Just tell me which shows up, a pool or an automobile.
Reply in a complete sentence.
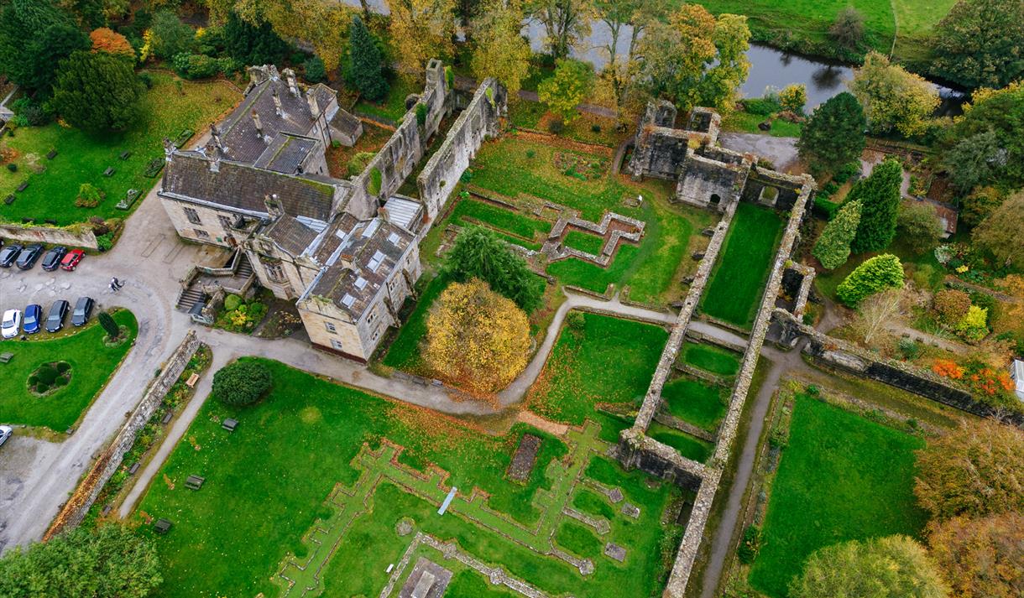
Of the two, only an automobile appears.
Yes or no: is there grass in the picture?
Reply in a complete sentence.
Yes, grass can be seen from above here.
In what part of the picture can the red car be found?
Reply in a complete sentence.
The red car sits in the left section of the image.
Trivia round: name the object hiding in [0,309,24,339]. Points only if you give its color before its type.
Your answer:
white car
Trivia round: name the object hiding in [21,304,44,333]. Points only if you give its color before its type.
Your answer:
blue car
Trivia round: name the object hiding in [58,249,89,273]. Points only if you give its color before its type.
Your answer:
red car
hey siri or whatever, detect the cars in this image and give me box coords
[0,419,19,448]
[44,300,69,332]
[0,244,28,270]
[69,295,94,327]
[39,247,72,272]
[15,245,48,270]
[21,304,44,333]
[58,249,89,273]
[0,309,24,339]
